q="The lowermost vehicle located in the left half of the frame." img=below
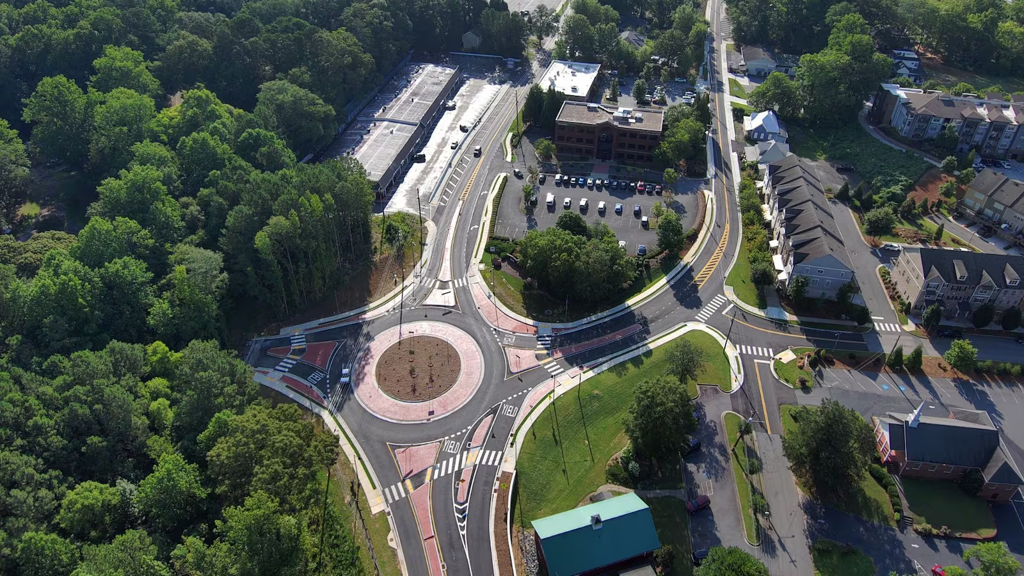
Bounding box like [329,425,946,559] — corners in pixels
[339,365,352,383]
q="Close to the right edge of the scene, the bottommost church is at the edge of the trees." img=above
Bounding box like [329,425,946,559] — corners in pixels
[854,388,1024,510]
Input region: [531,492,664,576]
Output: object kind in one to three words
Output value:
barn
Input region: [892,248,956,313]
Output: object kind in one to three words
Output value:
house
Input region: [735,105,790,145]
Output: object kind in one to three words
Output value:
house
